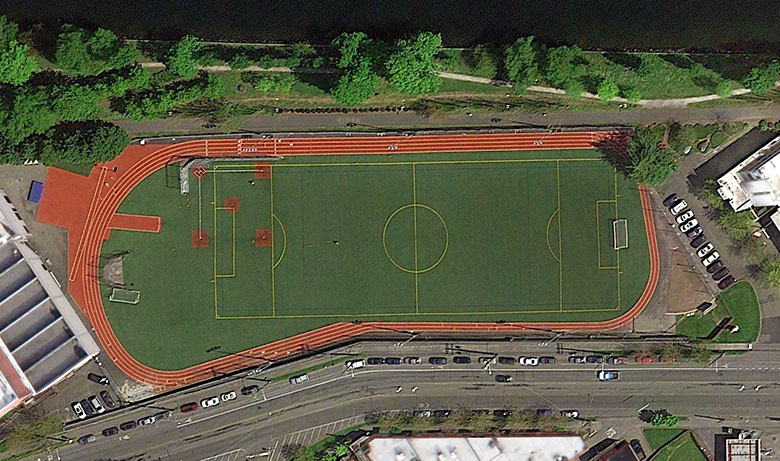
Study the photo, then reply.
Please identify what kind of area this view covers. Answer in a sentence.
What you see here is a sports ground.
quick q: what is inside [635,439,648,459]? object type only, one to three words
vehicle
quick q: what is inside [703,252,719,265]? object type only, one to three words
vehicle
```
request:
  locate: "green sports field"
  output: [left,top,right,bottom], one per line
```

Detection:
[99,149,650,371]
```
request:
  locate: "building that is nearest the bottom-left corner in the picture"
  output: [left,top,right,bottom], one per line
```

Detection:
[0,242,100,419]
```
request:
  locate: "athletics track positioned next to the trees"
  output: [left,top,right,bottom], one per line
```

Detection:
[37,131,660,394]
